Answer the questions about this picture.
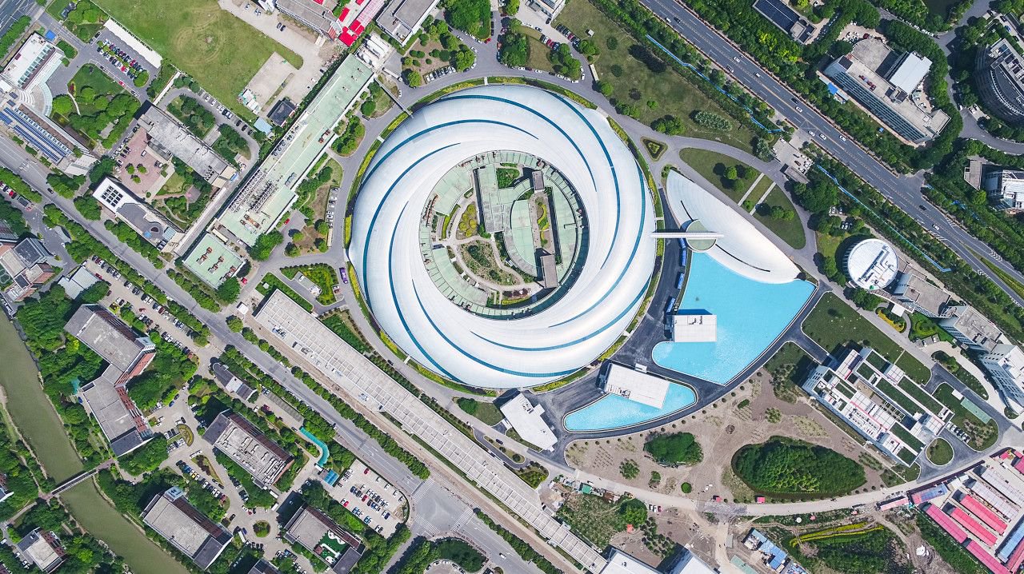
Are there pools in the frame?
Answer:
Yes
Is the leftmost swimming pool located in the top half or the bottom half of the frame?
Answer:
bottom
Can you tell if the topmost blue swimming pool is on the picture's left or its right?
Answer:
right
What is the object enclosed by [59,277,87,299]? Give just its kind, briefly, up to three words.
shed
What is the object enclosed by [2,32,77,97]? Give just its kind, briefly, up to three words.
building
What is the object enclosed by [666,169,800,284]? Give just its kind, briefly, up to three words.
building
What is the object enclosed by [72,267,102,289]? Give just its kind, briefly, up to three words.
shed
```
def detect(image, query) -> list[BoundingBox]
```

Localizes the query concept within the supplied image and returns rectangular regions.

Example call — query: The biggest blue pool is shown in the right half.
[650,250,818,388]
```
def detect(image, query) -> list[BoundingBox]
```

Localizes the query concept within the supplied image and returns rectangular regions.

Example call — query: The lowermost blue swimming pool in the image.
[562,379,699,434]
